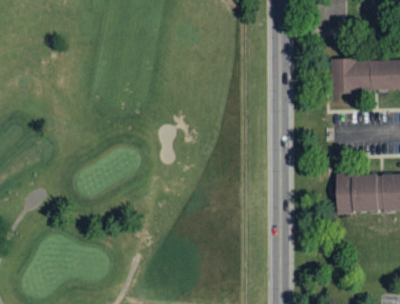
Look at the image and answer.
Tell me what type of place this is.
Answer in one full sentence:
This image shows a golf course.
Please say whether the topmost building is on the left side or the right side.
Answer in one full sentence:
It is on the right.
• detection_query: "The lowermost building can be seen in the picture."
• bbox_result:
[336,174,400,215]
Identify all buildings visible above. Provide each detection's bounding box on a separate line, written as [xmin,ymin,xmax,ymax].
[336,174,400,215]
[331,60,400,95]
